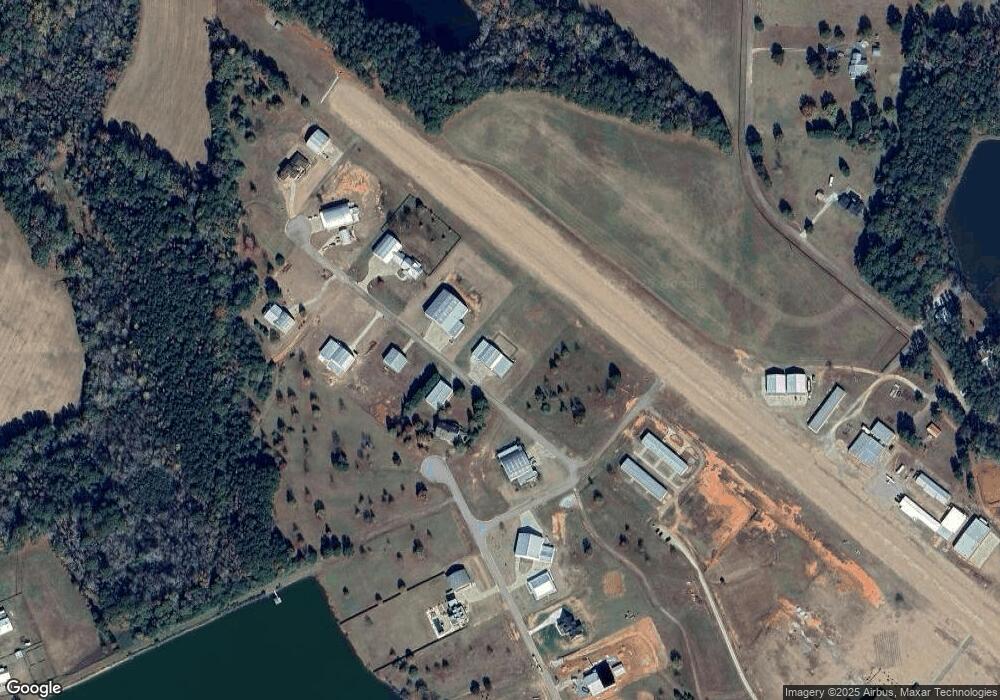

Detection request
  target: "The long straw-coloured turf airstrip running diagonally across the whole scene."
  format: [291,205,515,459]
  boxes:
[320,75,1000,676]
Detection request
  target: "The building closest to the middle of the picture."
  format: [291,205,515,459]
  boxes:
[472,340,514,379]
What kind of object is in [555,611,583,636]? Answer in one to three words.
house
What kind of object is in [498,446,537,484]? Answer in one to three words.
hangar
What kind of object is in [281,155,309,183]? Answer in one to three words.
house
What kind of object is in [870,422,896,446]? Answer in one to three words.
hangar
